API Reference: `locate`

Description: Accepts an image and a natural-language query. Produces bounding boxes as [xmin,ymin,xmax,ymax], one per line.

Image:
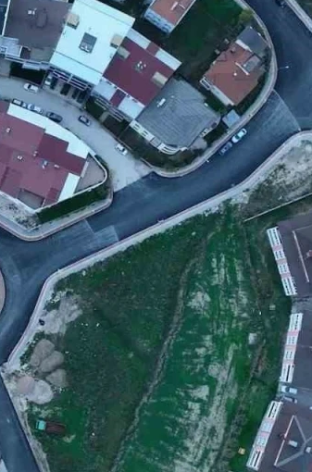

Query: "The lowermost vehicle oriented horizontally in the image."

[37,420,65,433]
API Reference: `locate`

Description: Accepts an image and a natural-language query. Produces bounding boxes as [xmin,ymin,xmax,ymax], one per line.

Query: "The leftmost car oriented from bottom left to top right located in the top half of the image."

[217,141,233,156]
